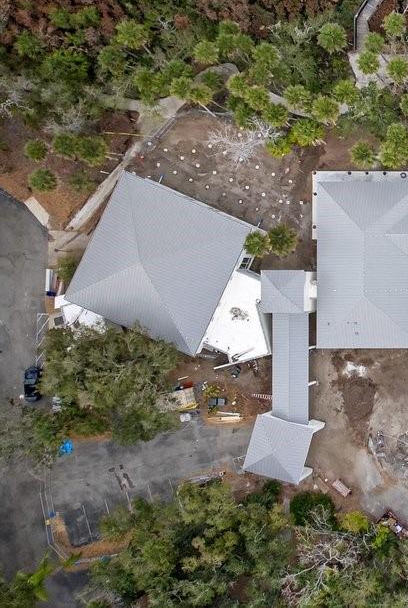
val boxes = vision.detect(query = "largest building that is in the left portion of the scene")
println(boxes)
[64,171,260,356]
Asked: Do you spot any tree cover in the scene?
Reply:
Yes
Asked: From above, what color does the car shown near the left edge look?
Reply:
black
